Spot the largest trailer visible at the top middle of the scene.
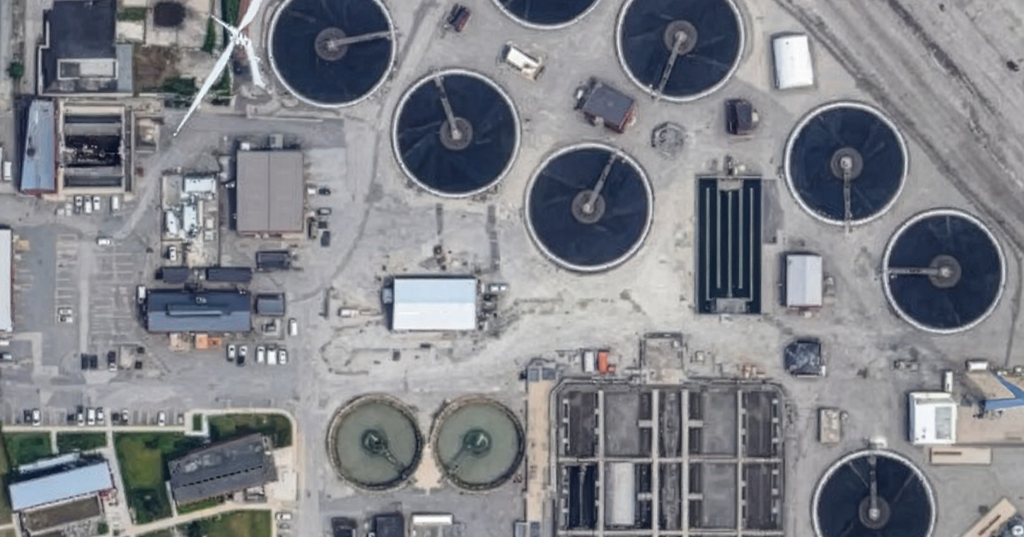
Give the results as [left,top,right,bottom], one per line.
[504,45,544,81]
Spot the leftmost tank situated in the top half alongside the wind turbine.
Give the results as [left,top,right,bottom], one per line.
[266,0,398,108]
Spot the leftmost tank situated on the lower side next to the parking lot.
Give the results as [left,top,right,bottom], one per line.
[326,393,424,490]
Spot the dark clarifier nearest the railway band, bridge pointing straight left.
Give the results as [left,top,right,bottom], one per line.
[880,208,1007,334]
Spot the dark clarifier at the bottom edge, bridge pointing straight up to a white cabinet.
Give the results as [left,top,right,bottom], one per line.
[809,445,939,537]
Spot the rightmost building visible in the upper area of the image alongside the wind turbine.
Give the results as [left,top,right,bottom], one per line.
[236,135,304,239]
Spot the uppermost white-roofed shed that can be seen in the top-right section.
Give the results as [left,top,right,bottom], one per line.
[773,34,813,90]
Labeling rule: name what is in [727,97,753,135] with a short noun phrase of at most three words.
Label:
house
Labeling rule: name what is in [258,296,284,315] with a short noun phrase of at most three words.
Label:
shed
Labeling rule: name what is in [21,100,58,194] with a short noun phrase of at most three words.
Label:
building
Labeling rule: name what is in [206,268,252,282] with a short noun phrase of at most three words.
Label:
shed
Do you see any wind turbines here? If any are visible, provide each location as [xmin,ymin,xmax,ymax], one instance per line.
[164,0,269,137]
